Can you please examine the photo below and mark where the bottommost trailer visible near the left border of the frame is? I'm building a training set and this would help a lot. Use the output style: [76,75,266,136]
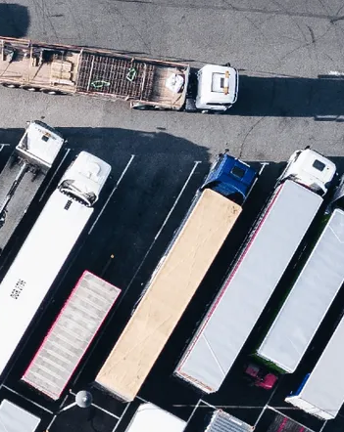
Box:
[0,399,40,432]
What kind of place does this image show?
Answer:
parking lot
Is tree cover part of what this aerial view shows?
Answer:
No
